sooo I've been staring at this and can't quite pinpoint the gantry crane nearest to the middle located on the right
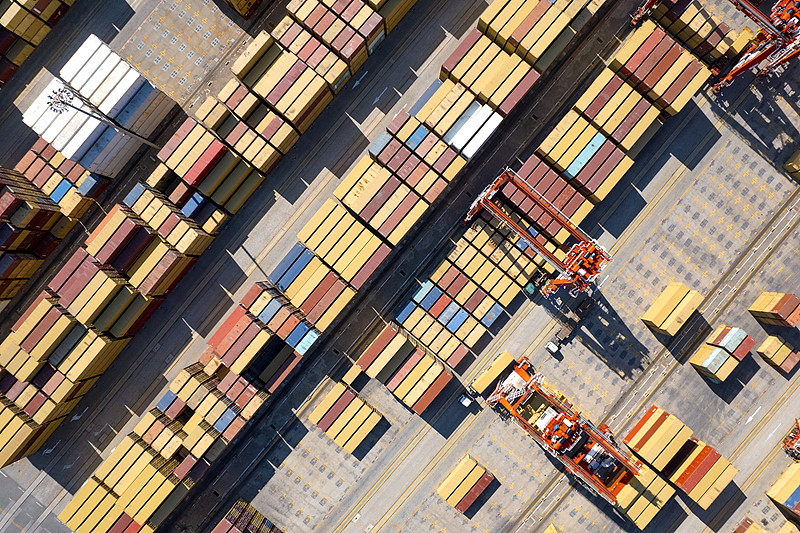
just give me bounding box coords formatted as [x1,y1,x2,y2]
[458,159,617,297]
